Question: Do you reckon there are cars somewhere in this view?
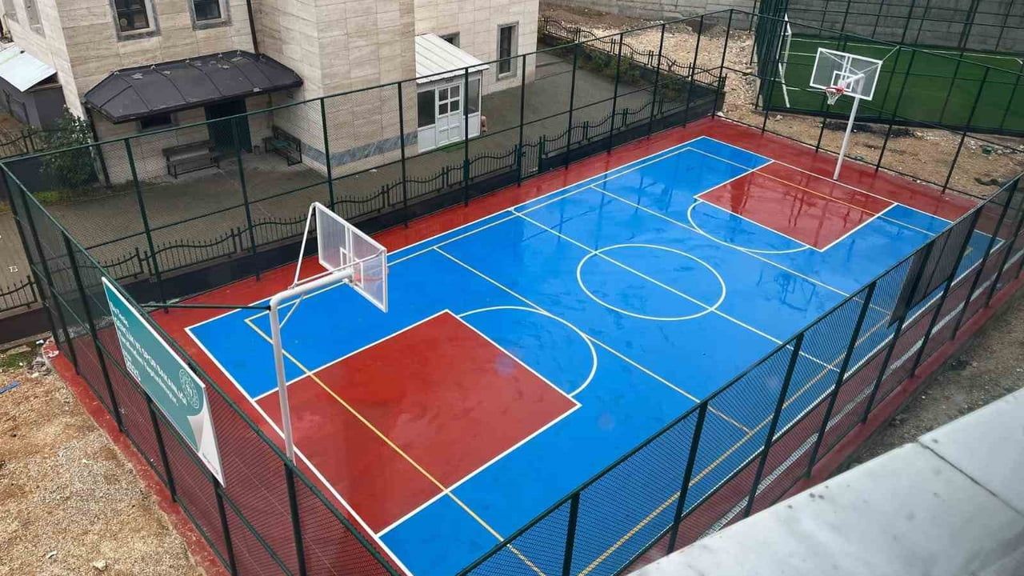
No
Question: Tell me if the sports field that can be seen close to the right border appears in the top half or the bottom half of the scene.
top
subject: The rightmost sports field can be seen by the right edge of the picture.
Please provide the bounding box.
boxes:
[754,32,1024,123]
